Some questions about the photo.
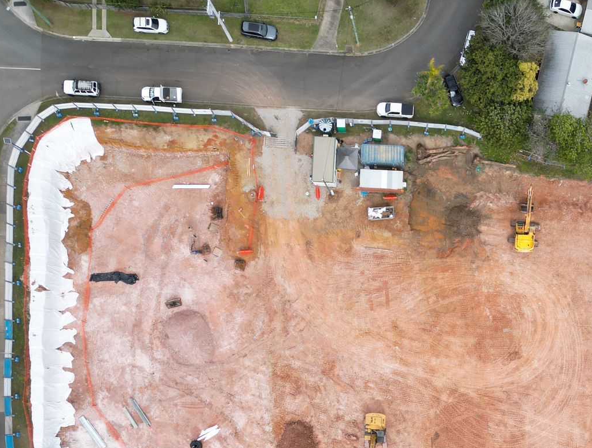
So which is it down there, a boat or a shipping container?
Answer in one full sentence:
This aerial view contains a shipping container.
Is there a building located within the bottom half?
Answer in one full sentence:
No, I see no building within the bottom half.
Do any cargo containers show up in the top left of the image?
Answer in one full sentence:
No, no cargo container appears in the top left of the image.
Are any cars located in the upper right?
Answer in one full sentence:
Yes, a car appears in the upper right.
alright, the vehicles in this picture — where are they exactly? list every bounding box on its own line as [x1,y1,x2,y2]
[550,0,583,16]
[239,17,275,39]
[60,76,98,94]
[130,13,167,34]
[141,82,179,106]
[376,99,414,117]
[459,26,480,65]
[441,71,464,106]
[511,180,539,251]
[364,414,386,448]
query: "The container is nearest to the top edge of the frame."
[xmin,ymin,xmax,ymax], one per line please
[361,144,406,170]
